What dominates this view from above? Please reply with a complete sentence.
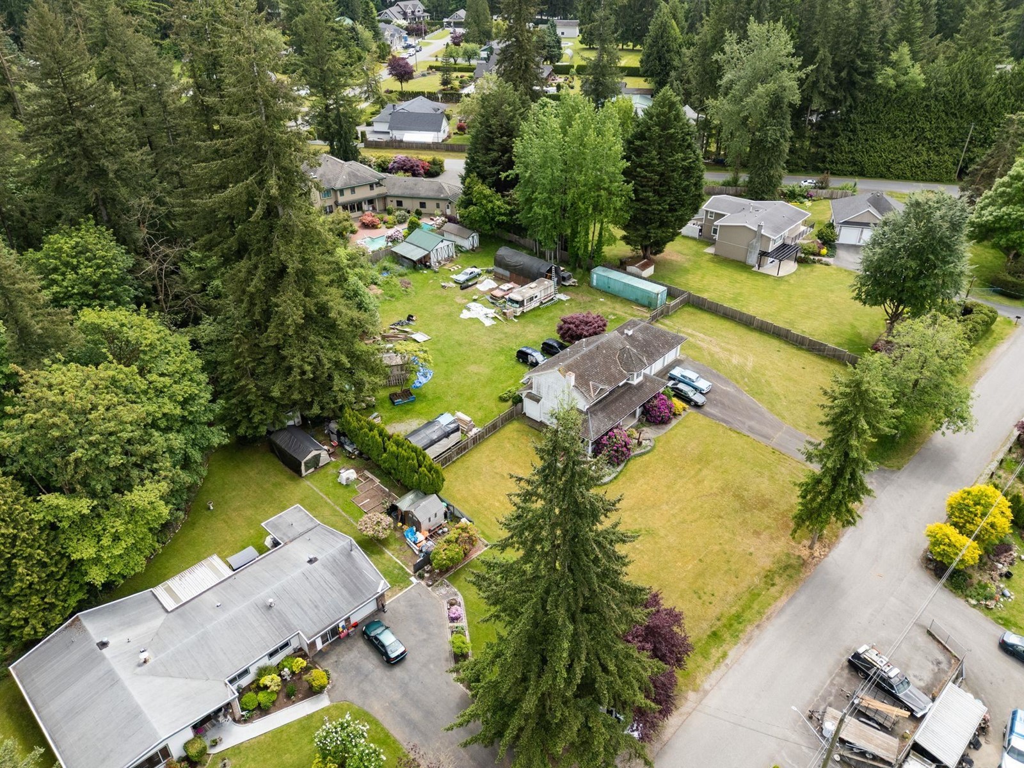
For the most part, this view shows trees.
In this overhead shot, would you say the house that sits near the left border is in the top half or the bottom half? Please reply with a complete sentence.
Seen from above, the house that sits near the left border lies in the bottom half of the view.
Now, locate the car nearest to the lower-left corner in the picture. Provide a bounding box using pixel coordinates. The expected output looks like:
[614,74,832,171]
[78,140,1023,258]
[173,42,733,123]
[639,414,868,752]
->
[364,612,410,664]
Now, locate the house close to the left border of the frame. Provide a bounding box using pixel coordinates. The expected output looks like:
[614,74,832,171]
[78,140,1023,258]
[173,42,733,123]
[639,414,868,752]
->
[9,506,391,768]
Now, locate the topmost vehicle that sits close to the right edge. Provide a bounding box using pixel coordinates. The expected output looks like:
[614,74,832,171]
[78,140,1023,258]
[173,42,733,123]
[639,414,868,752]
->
[980,625,1024,668]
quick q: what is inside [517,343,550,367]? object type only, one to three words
vehicle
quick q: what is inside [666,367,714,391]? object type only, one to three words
car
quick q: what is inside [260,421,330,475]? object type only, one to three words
tent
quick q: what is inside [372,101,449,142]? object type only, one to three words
house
